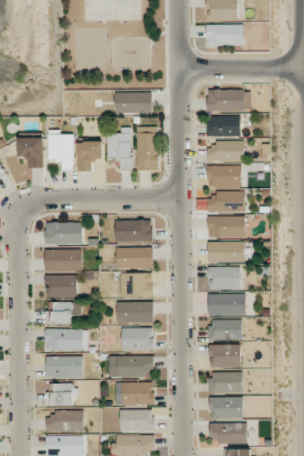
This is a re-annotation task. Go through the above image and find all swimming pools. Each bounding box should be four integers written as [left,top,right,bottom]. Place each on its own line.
[24,120,40,132]
[252,219,266,236]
